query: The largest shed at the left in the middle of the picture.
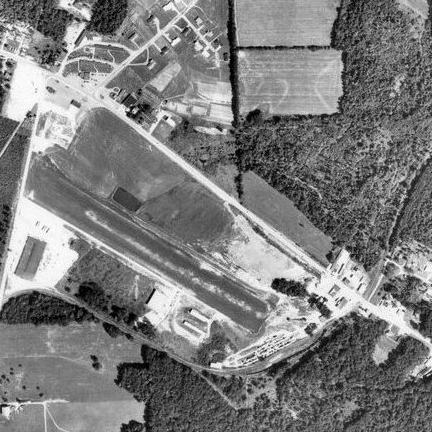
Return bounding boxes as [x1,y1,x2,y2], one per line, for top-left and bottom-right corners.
[16,237,46,280]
